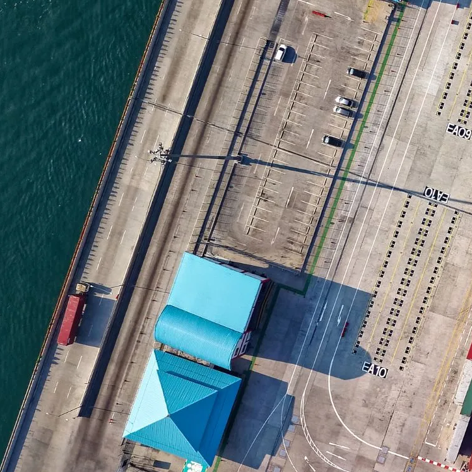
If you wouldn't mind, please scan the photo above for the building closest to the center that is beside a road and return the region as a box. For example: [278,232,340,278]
[150,250,280,374]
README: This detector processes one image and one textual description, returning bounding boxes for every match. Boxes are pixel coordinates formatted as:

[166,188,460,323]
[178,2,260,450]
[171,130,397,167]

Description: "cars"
[332,106,353,118]
[274,43,289,64]
[336,97,355,109]
[348,67,367,79]
[322,136,342,148]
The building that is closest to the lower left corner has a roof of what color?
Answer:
blue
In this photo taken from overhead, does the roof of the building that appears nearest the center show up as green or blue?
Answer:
blue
